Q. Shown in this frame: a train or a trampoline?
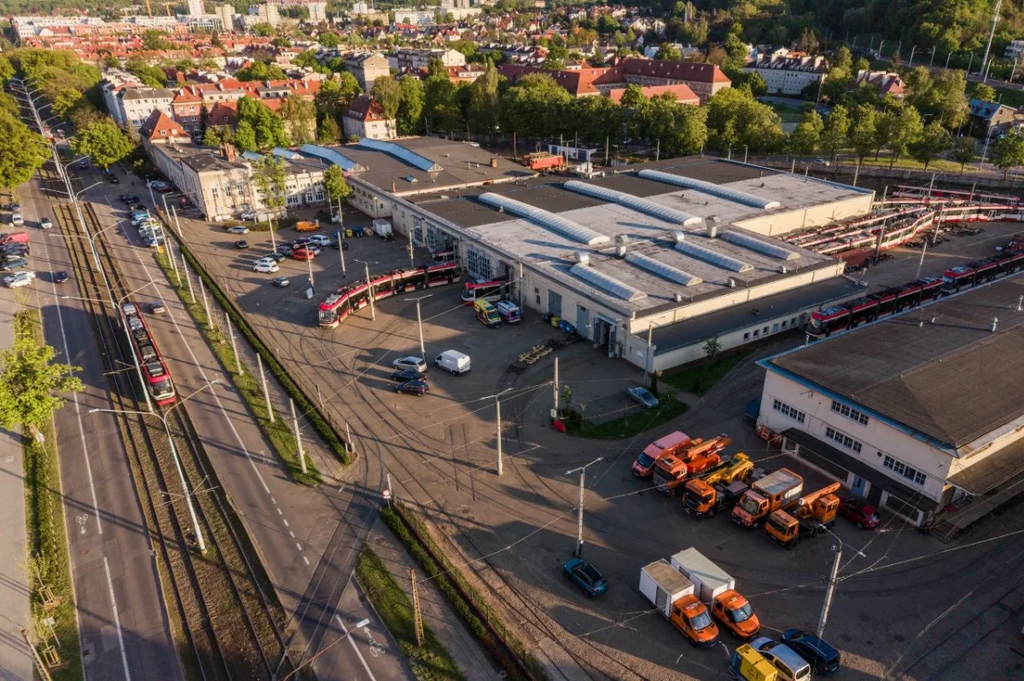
train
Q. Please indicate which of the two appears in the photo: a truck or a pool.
truck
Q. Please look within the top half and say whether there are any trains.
Yes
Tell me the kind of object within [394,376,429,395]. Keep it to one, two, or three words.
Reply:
car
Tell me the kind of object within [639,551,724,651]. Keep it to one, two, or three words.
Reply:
truck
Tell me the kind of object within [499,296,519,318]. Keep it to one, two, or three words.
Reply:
vehicle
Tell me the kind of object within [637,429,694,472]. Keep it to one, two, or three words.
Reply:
van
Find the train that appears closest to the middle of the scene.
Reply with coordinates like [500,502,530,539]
[464,272,499,303]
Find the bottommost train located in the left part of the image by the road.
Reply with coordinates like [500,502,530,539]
[124,308,177,409]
